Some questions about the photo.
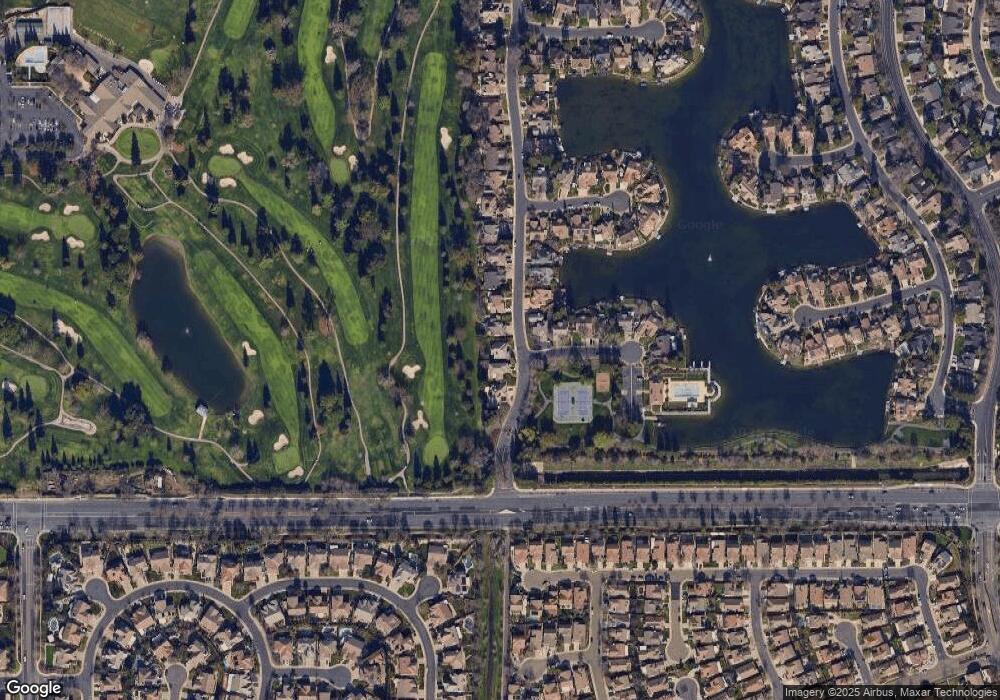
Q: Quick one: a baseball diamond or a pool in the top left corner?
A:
pool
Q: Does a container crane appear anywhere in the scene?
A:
No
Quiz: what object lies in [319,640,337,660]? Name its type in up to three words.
house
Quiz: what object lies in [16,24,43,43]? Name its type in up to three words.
tennis court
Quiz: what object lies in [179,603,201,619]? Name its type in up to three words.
house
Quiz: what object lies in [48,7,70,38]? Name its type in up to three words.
tennis court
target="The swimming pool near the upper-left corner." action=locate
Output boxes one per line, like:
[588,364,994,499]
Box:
[16,46,48,72]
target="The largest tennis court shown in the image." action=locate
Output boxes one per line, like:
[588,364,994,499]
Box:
[553,381,593,424]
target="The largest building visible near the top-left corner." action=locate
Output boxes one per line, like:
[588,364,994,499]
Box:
[70,64,173,143]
